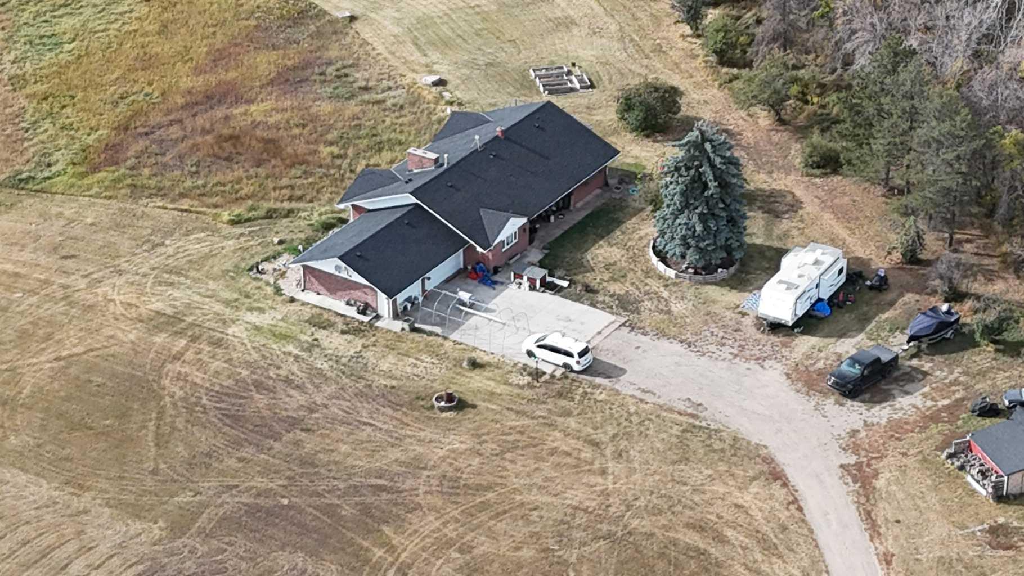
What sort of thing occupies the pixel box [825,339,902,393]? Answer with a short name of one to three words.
truck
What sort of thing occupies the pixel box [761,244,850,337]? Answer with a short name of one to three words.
vehicle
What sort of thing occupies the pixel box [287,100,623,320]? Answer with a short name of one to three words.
house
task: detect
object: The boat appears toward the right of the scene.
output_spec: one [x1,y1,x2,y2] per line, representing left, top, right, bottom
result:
[906,297,965,342]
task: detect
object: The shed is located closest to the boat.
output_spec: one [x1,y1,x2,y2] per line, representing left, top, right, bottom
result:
[966,412,1024,498]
